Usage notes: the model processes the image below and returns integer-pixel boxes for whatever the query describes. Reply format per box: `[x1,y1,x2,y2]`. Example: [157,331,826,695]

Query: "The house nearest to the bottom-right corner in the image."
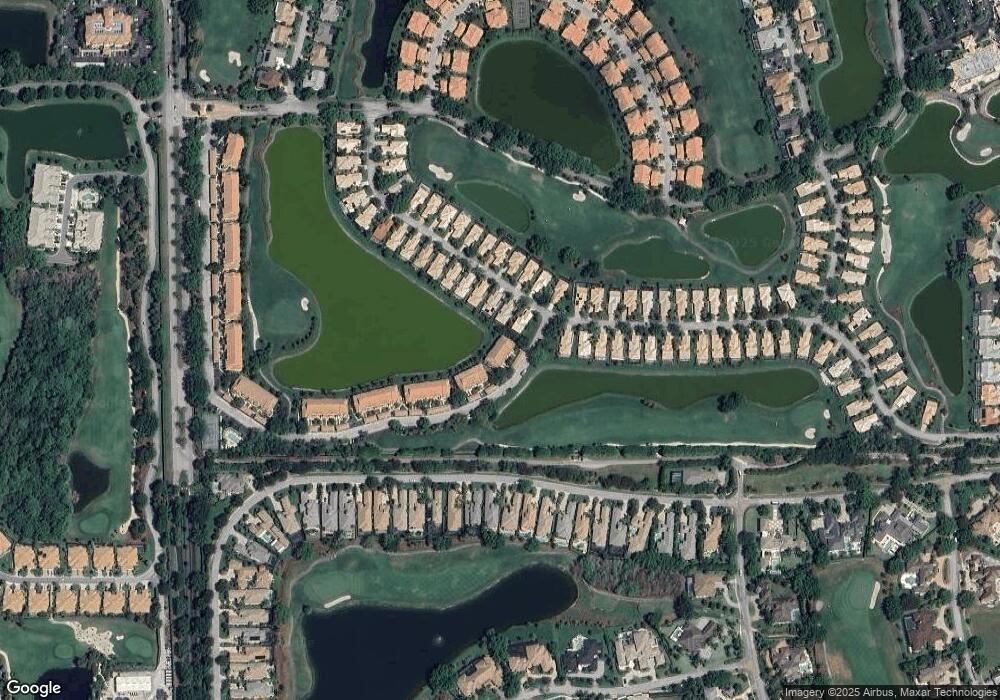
[926,659,962,694]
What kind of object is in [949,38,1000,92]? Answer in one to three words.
building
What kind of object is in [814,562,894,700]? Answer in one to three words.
golf course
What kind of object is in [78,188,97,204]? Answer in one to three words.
swimming pool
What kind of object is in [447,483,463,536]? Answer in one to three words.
house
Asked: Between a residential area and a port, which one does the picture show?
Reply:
residential area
